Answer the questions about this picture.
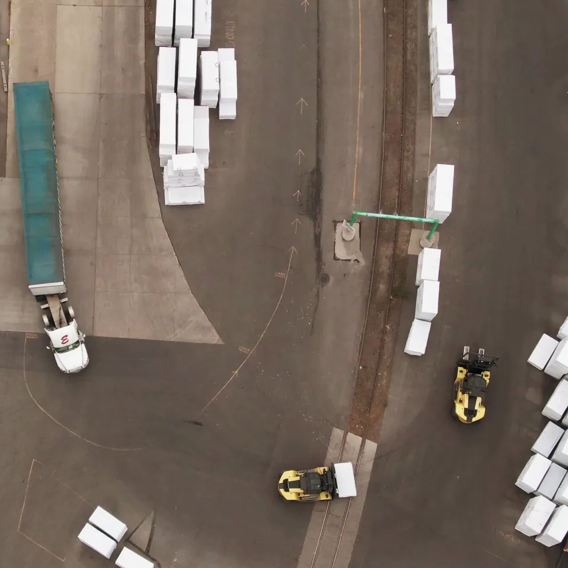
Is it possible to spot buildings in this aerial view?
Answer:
No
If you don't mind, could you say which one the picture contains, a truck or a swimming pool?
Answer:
truck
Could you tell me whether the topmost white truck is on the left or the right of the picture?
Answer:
left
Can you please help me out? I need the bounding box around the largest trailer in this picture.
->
[14,80,68,296]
